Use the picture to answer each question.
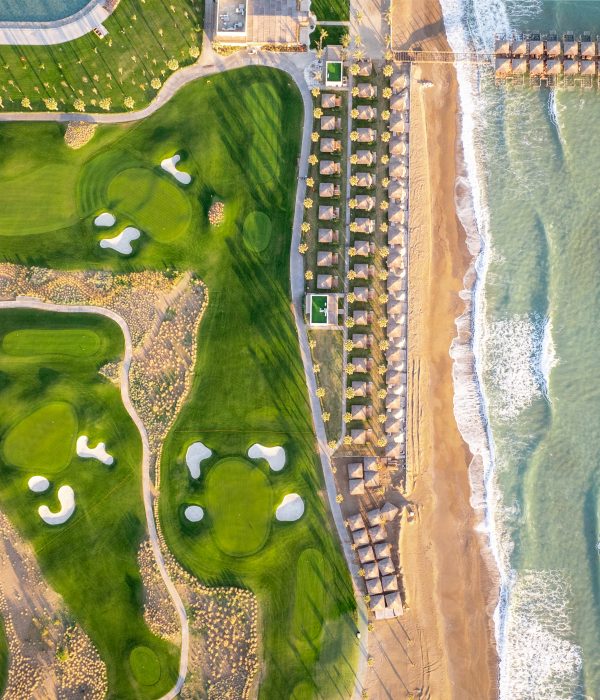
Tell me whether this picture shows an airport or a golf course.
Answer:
golf course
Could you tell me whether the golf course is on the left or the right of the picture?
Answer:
left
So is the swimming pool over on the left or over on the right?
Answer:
left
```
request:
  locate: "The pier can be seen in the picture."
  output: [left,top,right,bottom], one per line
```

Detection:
[385,38,600,84]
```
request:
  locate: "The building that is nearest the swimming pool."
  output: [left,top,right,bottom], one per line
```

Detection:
[213,0,299,48]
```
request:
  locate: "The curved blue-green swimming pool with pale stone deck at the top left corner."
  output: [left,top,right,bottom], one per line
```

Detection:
[0,0,118,44]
